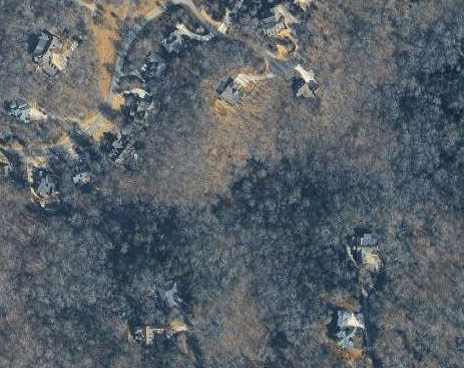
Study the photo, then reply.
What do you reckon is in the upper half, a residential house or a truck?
residential house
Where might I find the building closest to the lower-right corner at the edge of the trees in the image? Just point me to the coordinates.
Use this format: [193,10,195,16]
[334,305,366,345]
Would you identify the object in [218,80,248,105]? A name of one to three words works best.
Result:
house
